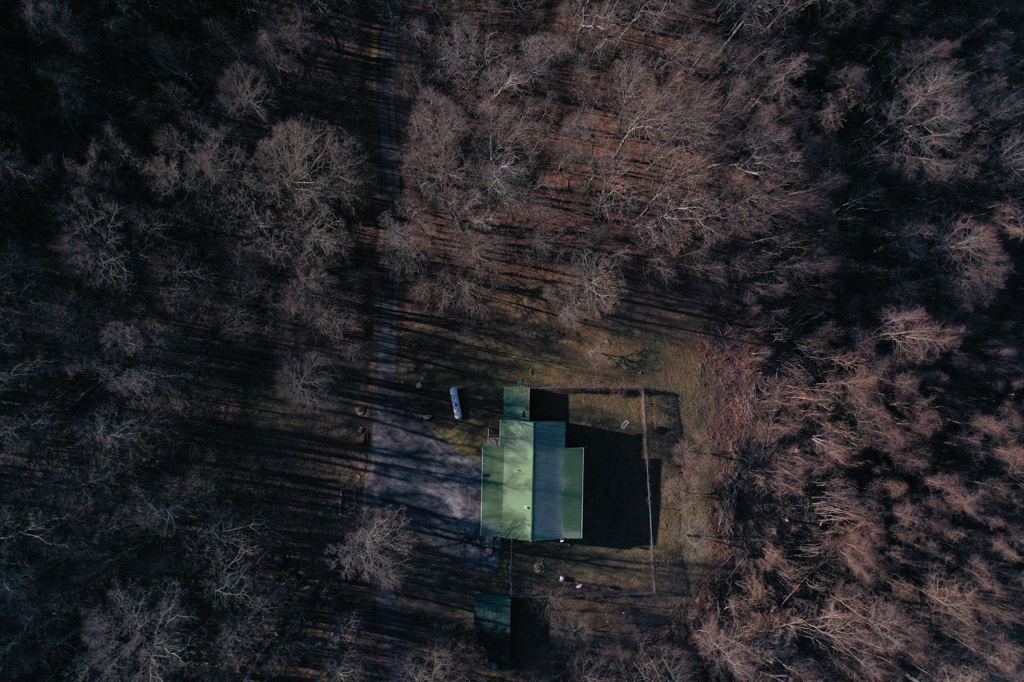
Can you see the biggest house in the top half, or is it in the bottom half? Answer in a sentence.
The biggest house sits in the bottom half of the picture.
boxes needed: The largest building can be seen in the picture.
[480,386,585,542]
